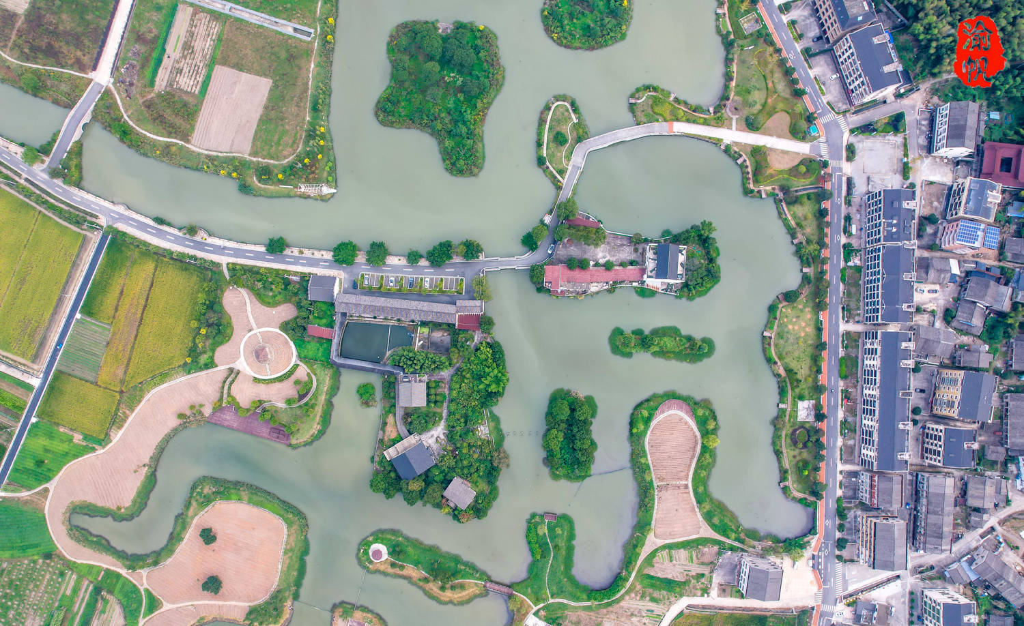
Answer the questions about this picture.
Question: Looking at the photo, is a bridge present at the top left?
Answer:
Yes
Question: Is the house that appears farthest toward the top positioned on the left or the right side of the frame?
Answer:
right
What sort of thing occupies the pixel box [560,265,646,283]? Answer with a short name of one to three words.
building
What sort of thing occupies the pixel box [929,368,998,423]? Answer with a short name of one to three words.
house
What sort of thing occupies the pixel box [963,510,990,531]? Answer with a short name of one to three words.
shed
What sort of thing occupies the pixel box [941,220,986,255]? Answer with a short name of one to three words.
house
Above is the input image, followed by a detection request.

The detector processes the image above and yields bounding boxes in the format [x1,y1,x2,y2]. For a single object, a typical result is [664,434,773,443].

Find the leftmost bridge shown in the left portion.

[46,79,105,167]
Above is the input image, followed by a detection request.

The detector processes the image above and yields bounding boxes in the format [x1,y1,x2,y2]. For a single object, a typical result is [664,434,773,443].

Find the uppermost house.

[808,0,878,45]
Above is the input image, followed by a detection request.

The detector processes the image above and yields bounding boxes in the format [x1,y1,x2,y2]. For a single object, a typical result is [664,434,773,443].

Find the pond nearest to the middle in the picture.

[342,322,414,362]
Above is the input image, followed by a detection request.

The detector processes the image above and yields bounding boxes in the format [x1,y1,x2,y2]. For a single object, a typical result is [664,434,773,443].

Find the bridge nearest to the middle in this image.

[476,252,535,271]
